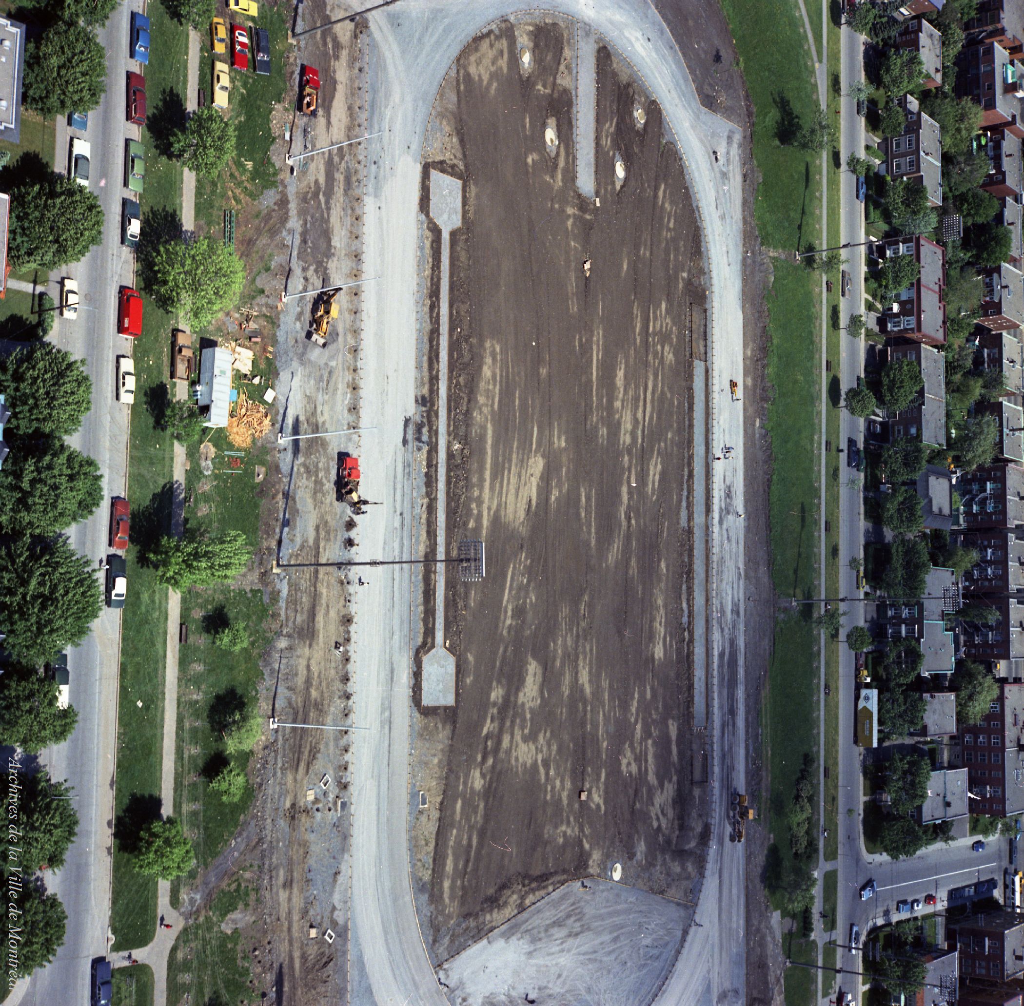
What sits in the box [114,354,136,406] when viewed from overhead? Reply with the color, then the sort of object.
white car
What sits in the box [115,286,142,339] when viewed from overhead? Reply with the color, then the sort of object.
red vehicle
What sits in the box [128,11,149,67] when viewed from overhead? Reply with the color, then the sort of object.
blue car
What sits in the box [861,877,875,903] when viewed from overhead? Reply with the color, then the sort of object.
blue car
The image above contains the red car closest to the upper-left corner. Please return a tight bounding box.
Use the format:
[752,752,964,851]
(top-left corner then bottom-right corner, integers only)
[125,70,147,126]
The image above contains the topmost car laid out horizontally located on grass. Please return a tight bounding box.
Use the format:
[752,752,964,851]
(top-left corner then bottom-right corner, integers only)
[223,0,263,20]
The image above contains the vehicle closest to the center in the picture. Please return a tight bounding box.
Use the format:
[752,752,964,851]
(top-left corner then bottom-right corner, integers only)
[334,456,388,516]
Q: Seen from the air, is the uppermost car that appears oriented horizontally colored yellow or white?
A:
yellow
